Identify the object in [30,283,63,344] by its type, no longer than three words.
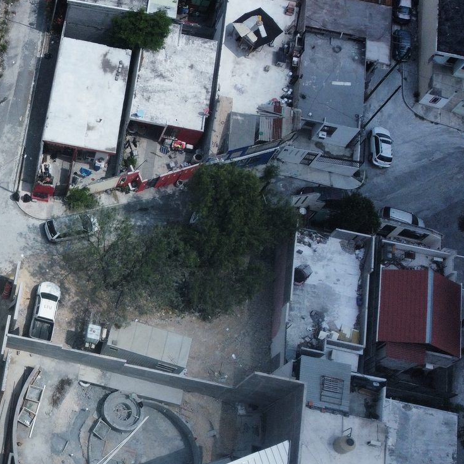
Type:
truck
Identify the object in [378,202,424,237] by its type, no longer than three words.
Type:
car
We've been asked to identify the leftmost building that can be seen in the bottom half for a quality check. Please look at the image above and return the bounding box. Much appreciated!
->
[102,322,191,374]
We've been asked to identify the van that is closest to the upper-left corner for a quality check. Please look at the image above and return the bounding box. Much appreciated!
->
[43,211,101,246]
